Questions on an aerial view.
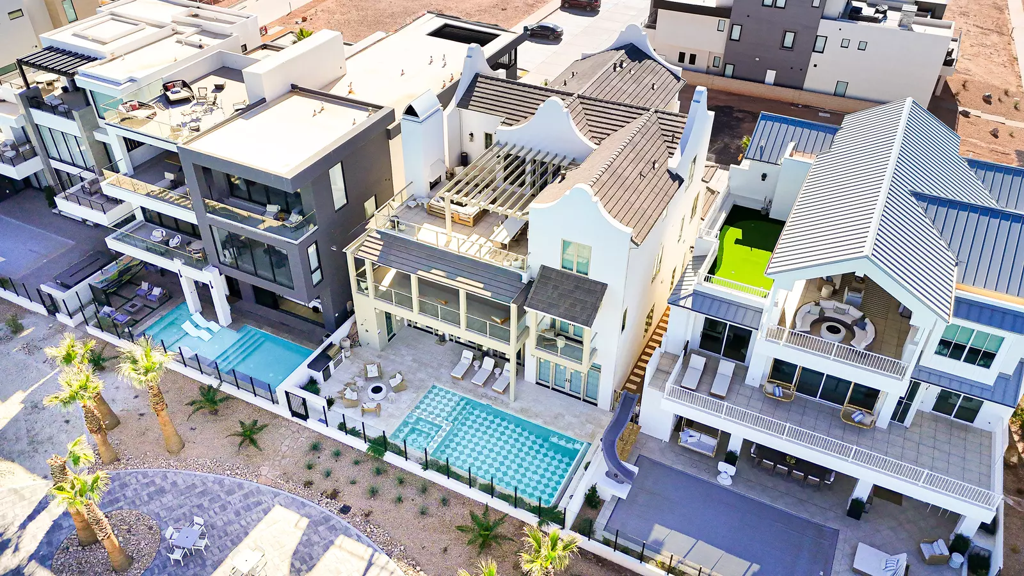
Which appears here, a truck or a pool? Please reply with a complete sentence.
I can see a pool in this picture.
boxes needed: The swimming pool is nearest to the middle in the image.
[390,385,602,509]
